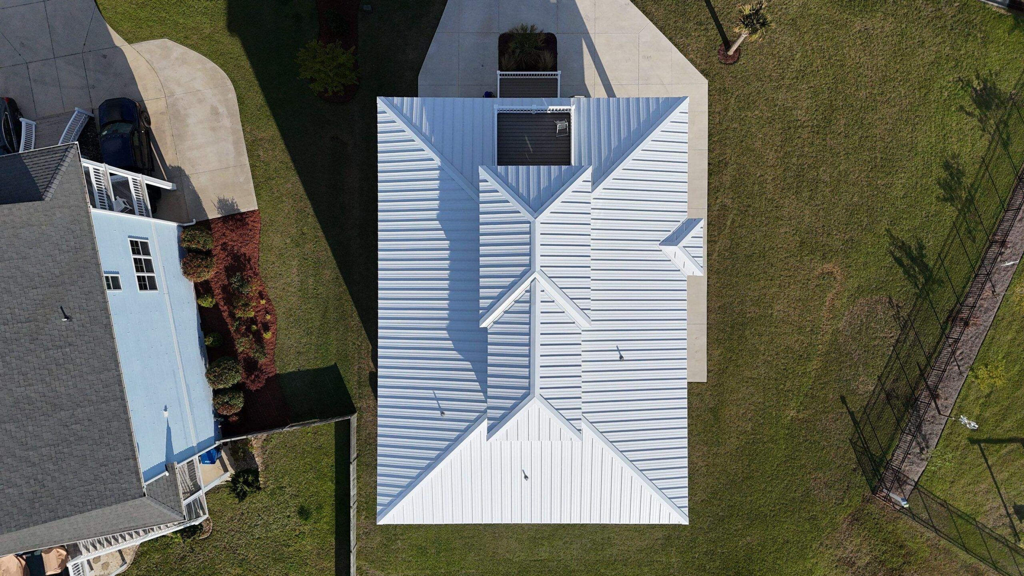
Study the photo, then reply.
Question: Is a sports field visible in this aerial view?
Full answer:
No, no sports field can be seen from above.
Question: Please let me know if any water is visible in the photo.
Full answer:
No, the picture contains no water.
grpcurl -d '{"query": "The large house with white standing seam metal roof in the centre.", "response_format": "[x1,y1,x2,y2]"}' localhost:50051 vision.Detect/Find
[377,70,703,524]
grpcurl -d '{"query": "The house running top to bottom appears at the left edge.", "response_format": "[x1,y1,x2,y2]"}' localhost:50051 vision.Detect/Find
[0,93,230,576]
